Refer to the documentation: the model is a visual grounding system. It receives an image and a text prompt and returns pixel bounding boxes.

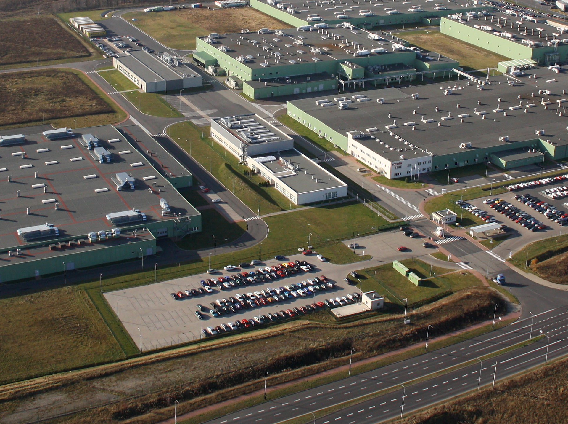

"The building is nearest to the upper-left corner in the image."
[111,49,202,93]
